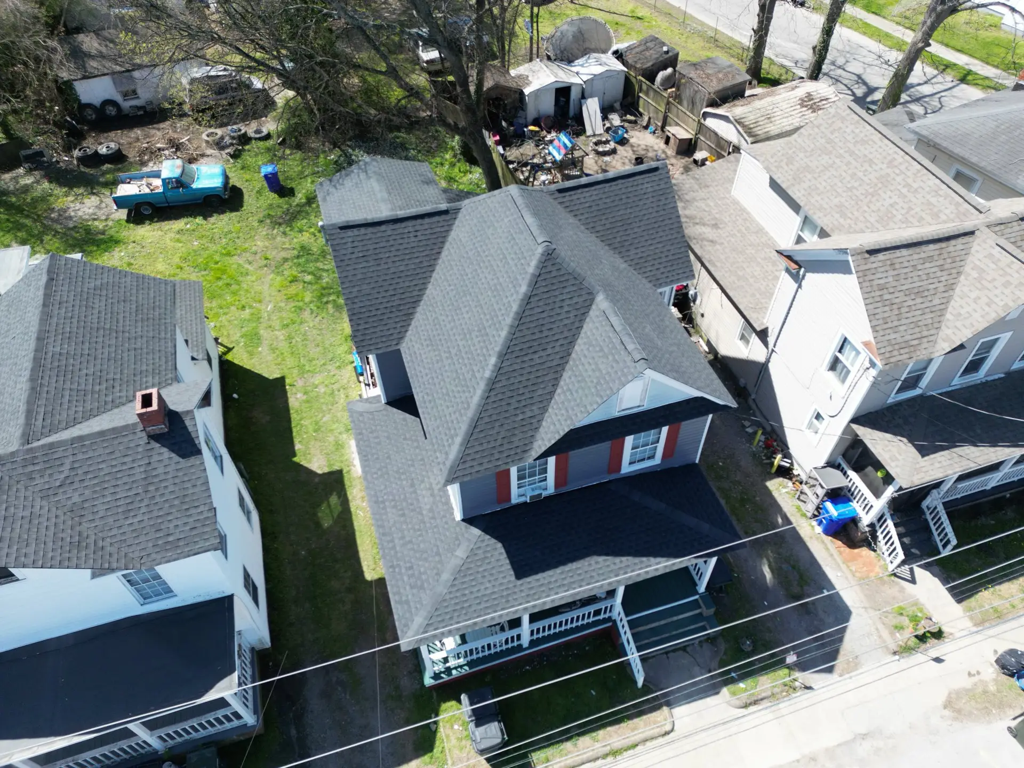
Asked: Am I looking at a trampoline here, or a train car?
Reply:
trampoline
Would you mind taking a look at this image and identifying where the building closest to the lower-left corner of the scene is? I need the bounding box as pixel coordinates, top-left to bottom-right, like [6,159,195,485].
[0,246,272,768]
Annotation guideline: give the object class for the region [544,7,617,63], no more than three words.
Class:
trampoline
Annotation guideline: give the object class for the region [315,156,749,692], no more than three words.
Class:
house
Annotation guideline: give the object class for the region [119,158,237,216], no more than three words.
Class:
truck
